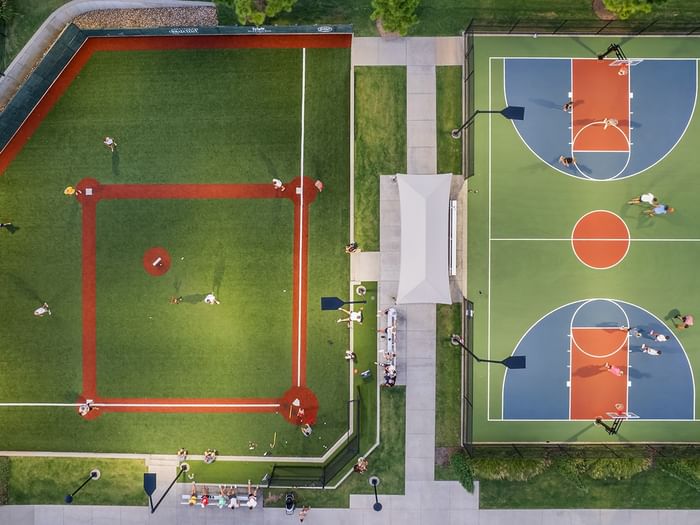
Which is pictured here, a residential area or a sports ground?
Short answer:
sports ground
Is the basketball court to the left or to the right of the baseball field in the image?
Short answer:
to the right of it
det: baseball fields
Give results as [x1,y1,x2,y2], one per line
[0,36,378,485]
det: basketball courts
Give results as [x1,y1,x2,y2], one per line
[464,36,700,444]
